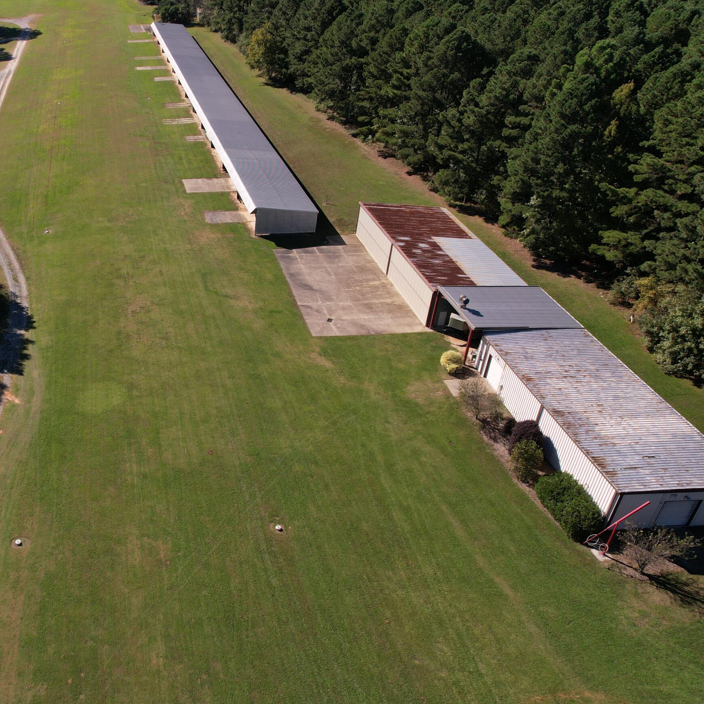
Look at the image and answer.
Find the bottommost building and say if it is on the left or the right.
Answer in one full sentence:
The bottommost building appears in the right half of the scene.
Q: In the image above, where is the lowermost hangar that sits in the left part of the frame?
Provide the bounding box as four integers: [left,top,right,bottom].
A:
[151,21,318,234]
